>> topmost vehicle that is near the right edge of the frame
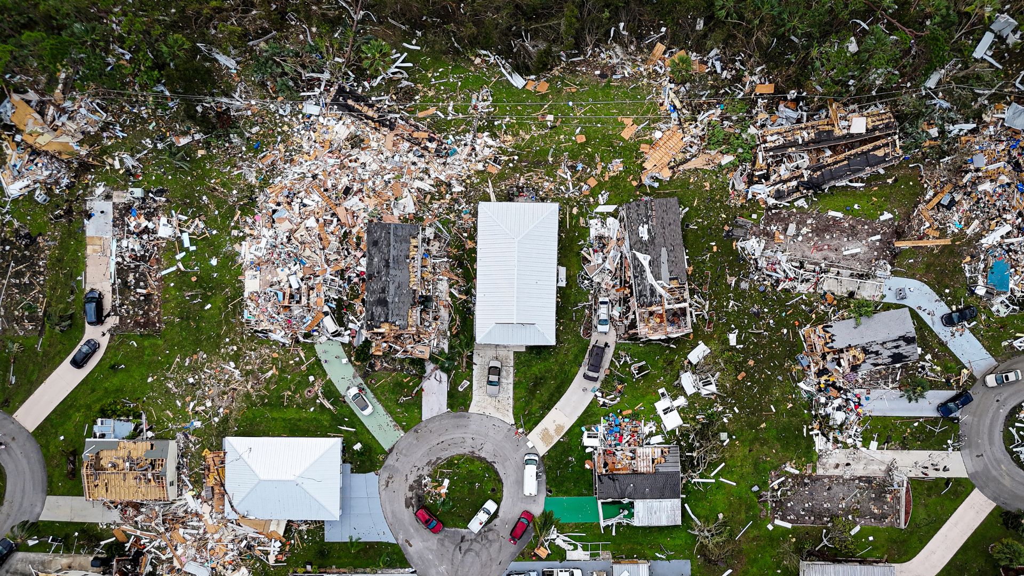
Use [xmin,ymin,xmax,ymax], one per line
[943,305,982,327]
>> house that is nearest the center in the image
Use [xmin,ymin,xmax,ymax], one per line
[474,201,559,346]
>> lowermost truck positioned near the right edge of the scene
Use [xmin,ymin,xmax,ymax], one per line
[938,390,980,418]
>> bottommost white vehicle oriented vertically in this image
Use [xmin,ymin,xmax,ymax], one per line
[522,454,540,500]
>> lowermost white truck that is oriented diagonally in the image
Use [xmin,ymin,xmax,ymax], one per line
[466,500,498,537]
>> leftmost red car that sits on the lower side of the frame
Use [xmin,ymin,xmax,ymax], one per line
[412,505,444,537]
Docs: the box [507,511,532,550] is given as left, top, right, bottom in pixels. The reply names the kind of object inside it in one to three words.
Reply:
car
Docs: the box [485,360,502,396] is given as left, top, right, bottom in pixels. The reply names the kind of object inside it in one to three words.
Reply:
car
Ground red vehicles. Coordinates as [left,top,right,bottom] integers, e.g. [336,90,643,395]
[412,505,444,537]
[507,511,532,550]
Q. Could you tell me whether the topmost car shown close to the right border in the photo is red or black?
black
